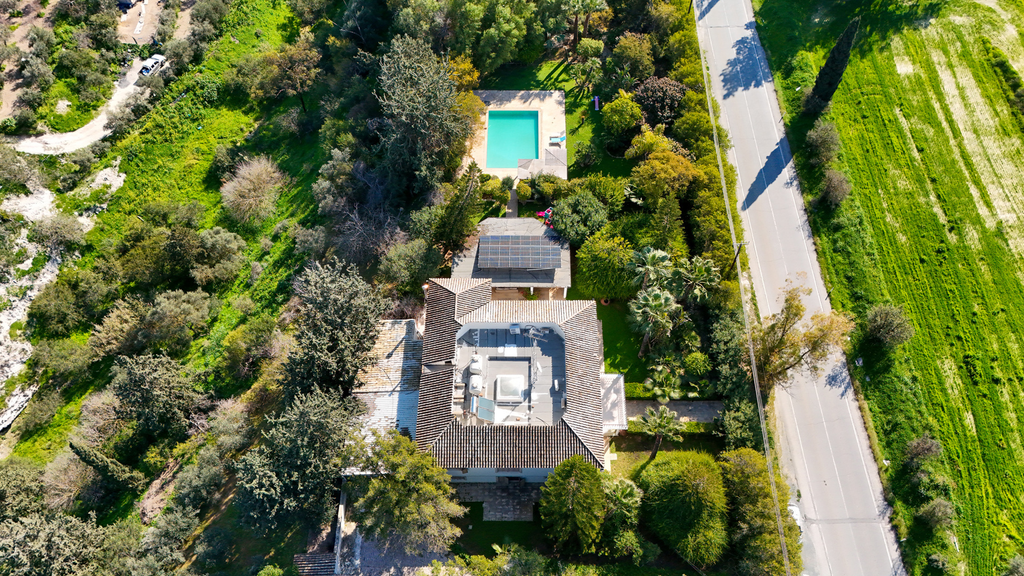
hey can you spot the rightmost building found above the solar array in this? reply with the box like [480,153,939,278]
[518,149,568,190]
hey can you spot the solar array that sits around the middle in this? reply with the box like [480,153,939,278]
[478,235,562,272]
